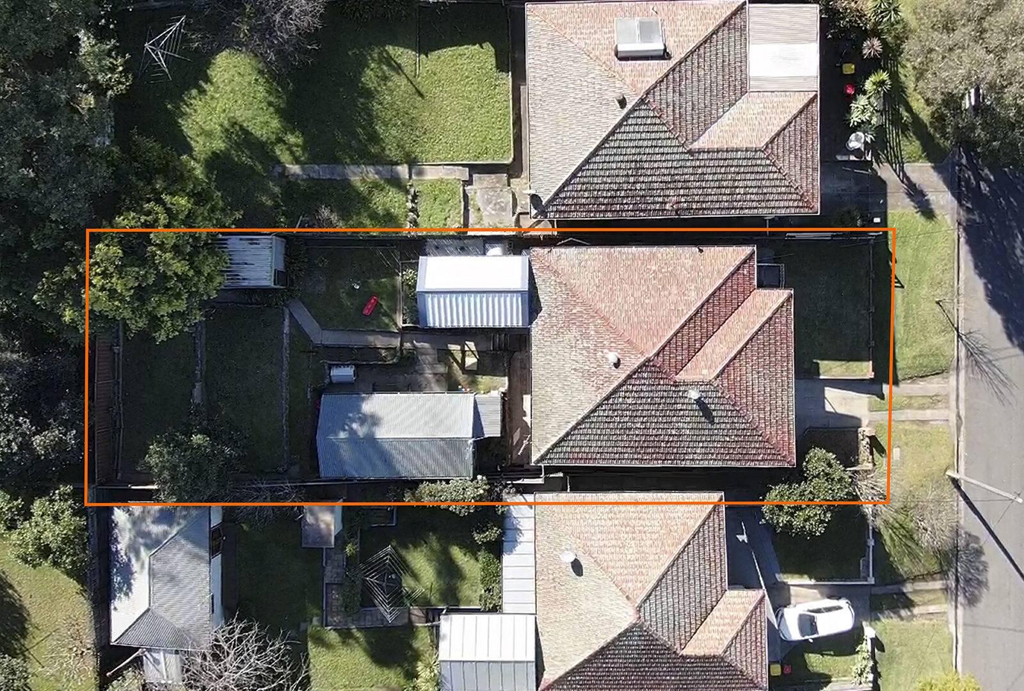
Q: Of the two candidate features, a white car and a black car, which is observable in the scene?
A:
white car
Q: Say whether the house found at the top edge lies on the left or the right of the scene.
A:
right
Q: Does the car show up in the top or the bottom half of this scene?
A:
bottom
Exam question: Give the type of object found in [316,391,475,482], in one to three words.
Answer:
shed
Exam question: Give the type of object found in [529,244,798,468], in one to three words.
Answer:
house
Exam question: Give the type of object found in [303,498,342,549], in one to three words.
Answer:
shed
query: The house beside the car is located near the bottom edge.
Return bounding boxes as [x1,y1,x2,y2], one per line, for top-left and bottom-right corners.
[532,488,770,691]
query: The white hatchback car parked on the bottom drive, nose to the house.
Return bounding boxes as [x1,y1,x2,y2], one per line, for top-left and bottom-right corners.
[774,594,858,643]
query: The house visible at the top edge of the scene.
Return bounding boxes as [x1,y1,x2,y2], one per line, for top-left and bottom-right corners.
[524,0,824,221]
